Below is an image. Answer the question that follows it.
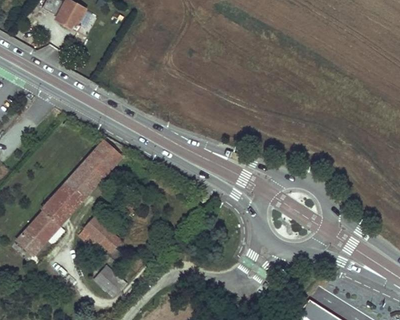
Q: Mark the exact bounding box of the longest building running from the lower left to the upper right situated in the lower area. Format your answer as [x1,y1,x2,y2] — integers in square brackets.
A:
[16,140,123,256]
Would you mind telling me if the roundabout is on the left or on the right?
right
